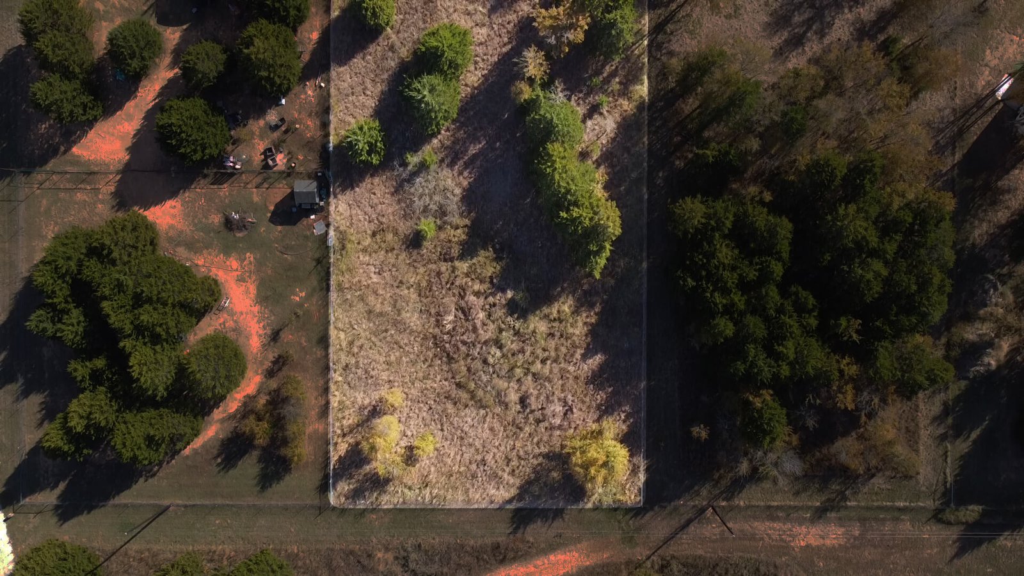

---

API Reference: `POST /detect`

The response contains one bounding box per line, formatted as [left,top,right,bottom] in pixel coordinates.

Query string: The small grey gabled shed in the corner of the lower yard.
[293,181,322,205]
